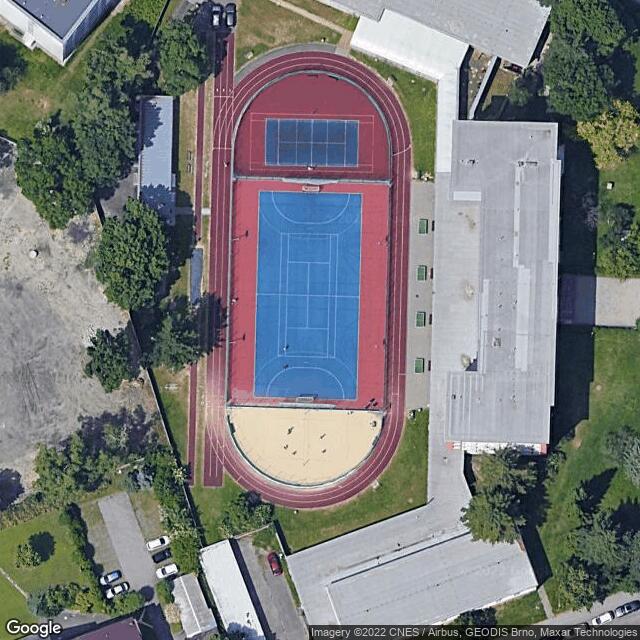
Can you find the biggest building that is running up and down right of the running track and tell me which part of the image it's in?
right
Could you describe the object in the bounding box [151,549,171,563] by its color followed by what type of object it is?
black car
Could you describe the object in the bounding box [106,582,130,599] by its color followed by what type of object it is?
white car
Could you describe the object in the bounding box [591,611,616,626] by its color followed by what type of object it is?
white car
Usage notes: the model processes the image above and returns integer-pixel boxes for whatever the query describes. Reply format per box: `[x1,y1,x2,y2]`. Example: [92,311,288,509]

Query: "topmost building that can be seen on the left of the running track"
[0,0,124,66]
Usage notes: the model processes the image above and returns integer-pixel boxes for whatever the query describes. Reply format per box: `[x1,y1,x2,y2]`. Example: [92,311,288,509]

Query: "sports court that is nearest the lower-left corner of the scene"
[227,406,384,488]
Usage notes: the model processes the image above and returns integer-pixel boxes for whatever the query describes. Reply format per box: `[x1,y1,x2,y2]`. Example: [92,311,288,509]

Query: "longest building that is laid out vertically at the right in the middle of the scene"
[446,121,561,455]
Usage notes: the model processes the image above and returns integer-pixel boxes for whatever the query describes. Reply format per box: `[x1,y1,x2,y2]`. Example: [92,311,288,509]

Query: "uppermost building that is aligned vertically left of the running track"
[138,96,174,229]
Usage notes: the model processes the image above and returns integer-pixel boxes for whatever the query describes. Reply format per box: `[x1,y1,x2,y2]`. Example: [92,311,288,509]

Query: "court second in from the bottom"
[228,181,389,408]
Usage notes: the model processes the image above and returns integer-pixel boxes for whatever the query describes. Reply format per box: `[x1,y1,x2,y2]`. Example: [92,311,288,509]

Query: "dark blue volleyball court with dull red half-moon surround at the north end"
[233,72,390,182]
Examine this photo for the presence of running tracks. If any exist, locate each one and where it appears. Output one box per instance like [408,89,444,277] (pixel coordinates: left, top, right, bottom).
[202,30,412,511]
